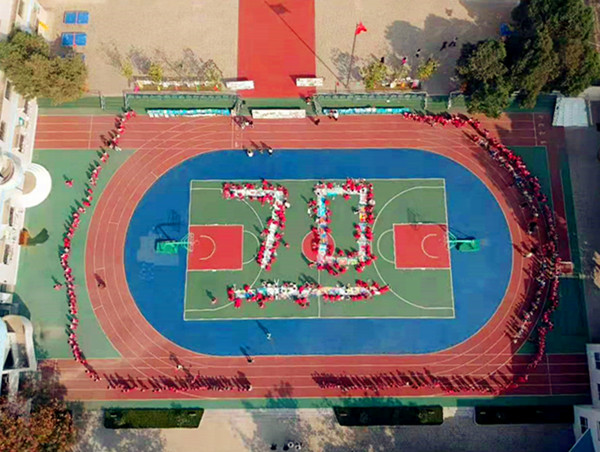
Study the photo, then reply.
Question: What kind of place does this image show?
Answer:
sports ground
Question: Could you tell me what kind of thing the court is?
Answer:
basketball court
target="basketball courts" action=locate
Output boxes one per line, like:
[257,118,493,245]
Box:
[184,178,455,320]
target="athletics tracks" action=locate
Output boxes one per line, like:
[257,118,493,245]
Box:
[32,111,592,399]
